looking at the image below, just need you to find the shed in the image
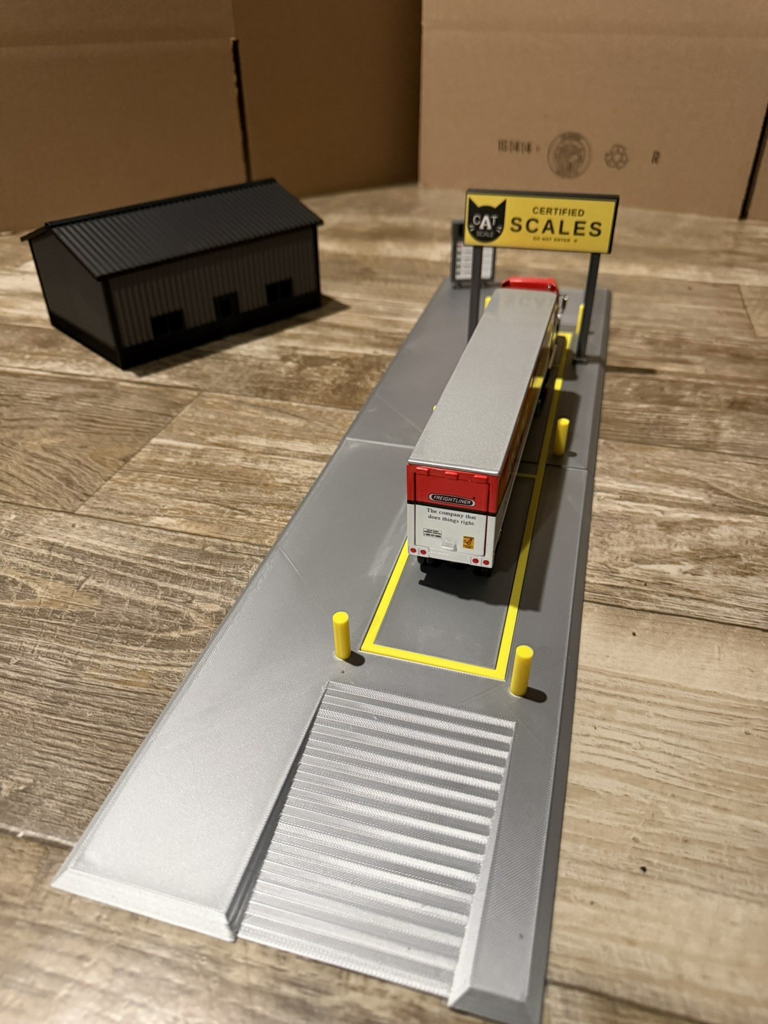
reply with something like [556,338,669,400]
[19,178,325,368]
